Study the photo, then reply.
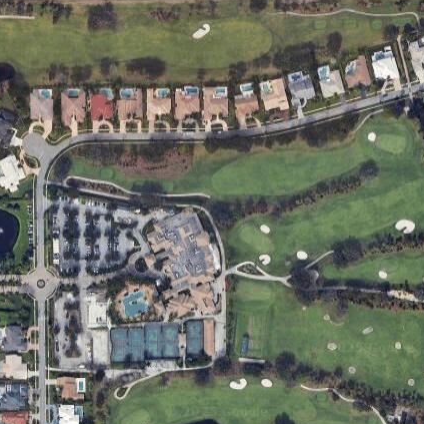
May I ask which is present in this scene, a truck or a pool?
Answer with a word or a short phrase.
pool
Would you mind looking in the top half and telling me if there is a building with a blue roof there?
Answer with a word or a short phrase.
No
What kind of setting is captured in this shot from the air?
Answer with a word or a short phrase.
golf course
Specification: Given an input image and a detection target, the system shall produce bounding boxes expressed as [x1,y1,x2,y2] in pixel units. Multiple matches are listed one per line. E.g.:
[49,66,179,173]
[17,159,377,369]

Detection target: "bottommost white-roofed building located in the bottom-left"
[59,404,80,424]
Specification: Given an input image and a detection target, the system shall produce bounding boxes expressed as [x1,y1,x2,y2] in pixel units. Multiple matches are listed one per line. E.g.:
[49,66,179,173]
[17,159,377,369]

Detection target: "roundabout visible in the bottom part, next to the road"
[23,265,62,302]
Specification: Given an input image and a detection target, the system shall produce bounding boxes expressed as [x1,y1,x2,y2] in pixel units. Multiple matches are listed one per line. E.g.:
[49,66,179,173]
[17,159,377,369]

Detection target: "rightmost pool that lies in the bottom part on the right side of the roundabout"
[123,290,149,318]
